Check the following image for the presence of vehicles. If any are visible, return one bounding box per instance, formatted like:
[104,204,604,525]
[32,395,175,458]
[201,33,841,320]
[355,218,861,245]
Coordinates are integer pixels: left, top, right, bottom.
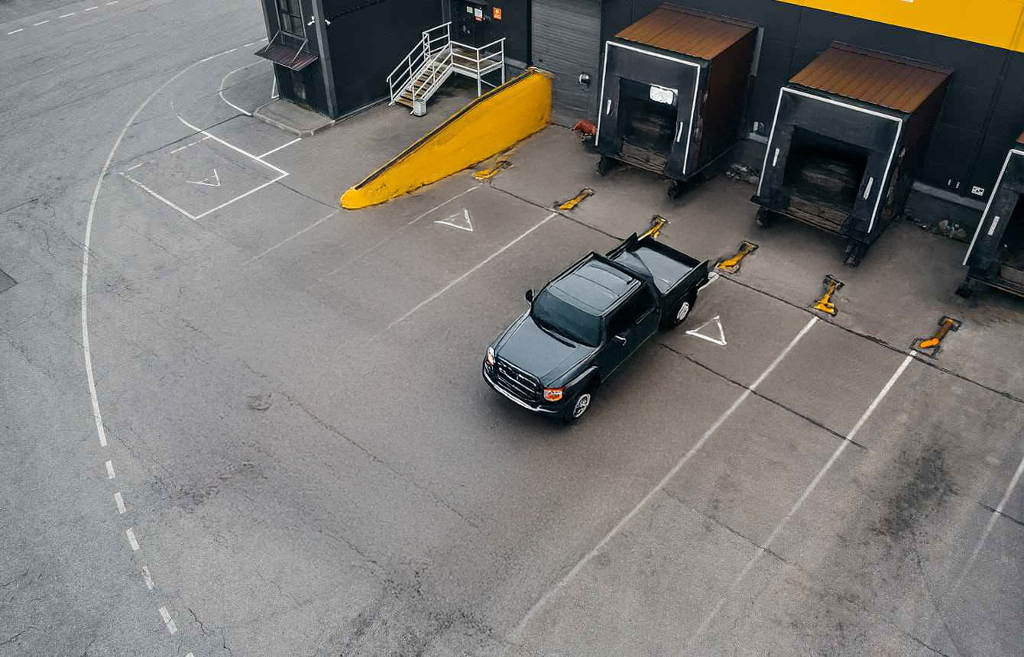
[479,228,706,424]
